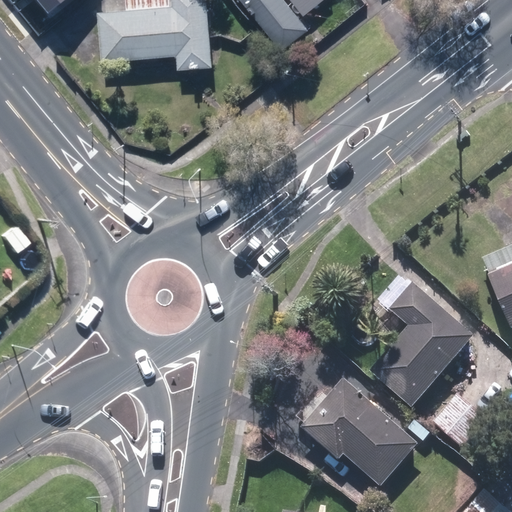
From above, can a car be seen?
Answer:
Yes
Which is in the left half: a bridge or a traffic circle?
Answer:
traffic circle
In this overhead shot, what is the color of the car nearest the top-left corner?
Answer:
white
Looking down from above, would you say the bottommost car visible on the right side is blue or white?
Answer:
blue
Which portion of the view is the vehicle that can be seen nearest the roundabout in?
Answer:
center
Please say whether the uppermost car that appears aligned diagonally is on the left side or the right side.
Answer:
right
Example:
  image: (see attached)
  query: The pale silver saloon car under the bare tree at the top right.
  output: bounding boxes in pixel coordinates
[464,11,492,36]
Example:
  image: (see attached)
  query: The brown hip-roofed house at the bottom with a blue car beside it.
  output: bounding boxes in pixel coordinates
[296,377,418,486]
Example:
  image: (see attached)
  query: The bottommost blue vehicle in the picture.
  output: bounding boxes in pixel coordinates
[324,454,350,478]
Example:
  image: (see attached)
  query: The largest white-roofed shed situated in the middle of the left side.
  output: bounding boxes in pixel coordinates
[6,227,30,253]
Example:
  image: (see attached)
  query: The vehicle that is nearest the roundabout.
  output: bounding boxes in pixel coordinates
[204,282,224,315]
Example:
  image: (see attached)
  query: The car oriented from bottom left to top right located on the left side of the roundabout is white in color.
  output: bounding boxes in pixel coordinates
[78,296,104,327]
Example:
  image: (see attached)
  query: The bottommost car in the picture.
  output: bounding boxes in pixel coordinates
[148,478,162,509]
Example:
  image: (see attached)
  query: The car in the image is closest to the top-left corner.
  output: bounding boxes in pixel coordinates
[120,202,154,229]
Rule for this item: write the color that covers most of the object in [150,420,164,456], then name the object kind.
white vehicle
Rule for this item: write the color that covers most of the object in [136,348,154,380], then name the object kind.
white car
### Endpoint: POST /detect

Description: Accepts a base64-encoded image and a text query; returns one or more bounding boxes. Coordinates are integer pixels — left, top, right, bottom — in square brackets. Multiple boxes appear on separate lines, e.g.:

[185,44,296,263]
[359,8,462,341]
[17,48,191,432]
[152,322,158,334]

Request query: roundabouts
[126,258,204,336]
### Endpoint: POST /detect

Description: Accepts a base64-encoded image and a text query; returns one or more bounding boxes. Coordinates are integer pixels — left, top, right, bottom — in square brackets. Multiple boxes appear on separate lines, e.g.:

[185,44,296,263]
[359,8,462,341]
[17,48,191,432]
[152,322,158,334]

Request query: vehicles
[150,420,164,456]
[232,235,262,266]
[78,296,104,327]
[40,404,69,418]
[196,199,230,226]
[148,478,162,509]
[120,202,154,229]
[464,11,492,36]
[204,282,224,315]
[323,158,354,184]
[256,237,288,268]
[476,382,504,406]
[136,348,154,380]
[324,454,350,478]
